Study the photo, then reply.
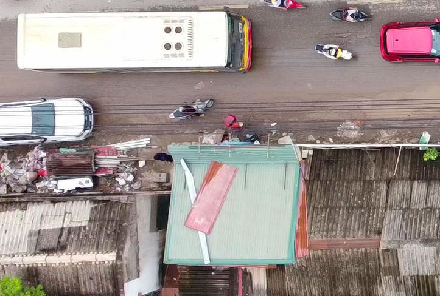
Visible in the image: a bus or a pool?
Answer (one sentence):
Visible in the photo is a bus.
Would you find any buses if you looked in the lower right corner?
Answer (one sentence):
No, I see no bus in the lower right corner.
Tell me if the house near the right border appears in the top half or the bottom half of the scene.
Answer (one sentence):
You can find the house near the right border in the bottom half.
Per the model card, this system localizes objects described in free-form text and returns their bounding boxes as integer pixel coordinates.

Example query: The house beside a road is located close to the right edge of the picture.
[268,145,440,296]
